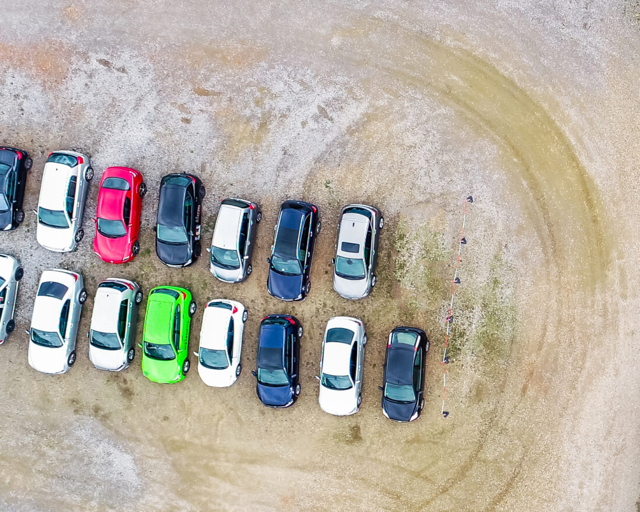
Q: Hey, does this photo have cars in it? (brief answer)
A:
Yes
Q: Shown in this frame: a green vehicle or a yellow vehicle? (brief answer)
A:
green vehicle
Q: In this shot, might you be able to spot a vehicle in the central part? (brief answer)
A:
Yes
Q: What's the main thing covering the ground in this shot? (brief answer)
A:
paved ground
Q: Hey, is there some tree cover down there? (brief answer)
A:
No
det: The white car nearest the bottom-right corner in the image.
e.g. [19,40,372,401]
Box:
[311,316,368,418]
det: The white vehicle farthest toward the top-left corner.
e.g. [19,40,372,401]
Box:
[29,148,93,254]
